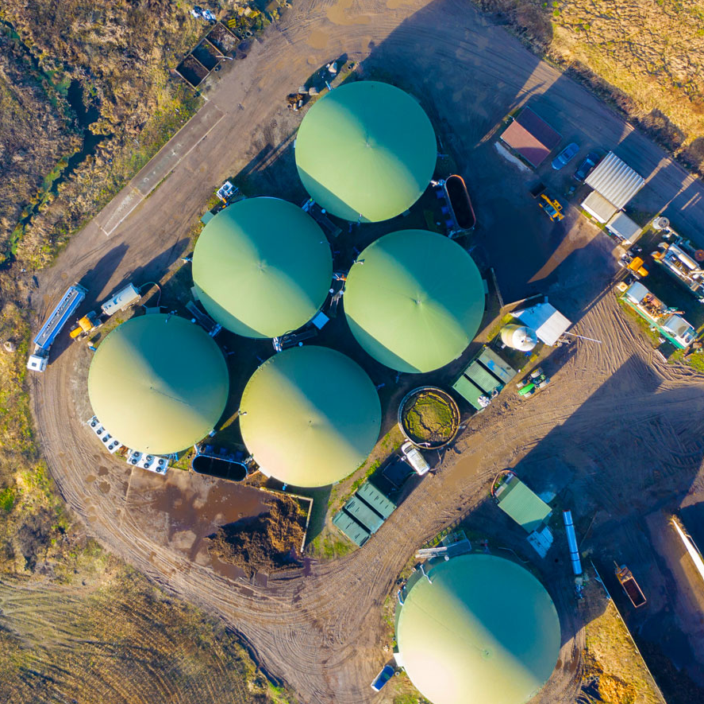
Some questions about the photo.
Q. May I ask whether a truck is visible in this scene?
Yes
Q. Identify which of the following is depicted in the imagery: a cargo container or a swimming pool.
cargo container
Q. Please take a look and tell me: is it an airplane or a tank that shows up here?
tank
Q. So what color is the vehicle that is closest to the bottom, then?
blue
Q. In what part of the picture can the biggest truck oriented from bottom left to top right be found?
left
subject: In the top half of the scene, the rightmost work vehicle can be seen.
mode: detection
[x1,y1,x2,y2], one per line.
[621,251,653,284]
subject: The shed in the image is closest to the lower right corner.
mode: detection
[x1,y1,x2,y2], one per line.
[486,464,550,532]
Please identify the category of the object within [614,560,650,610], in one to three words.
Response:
trailer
